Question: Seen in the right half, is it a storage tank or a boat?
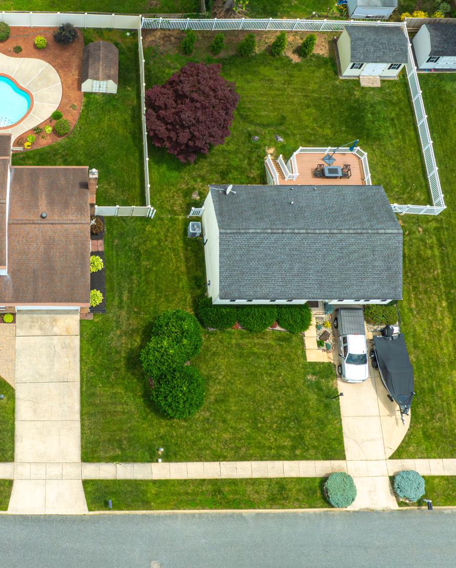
boat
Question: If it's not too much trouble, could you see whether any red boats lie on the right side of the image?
No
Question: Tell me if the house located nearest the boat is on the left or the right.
right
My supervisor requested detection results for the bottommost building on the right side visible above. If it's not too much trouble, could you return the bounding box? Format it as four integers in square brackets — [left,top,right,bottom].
[204,183,404,304]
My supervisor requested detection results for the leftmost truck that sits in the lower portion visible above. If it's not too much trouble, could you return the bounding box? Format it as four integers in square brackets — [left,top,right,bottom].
[335,303,373,382]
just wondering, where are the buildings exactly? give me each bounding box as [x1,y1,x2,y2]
[204,183,404,304]
[0,132,99,315]
[346,0,399,17]
[82,37,119,92]
[411,24,456,72]
[332,26,411,90]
